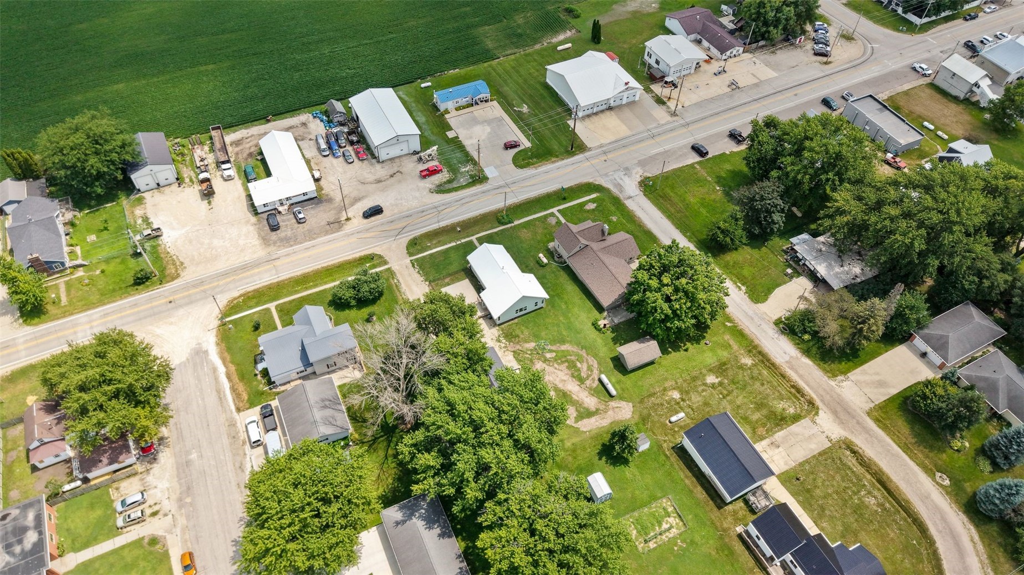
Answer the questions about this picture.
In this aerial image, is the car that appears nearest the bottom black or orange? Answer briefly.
orange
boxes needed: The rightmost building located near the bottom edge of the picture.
[749,502,898,575]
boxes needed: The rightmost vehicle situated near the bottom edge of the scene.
[179,547,199,575]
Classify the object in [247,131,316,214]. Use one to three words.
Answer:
house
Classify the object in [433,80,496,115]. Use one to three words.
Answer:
building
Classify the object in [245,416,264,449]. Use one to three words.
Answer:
car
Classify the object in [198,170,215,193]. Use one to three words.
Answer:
vehicle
